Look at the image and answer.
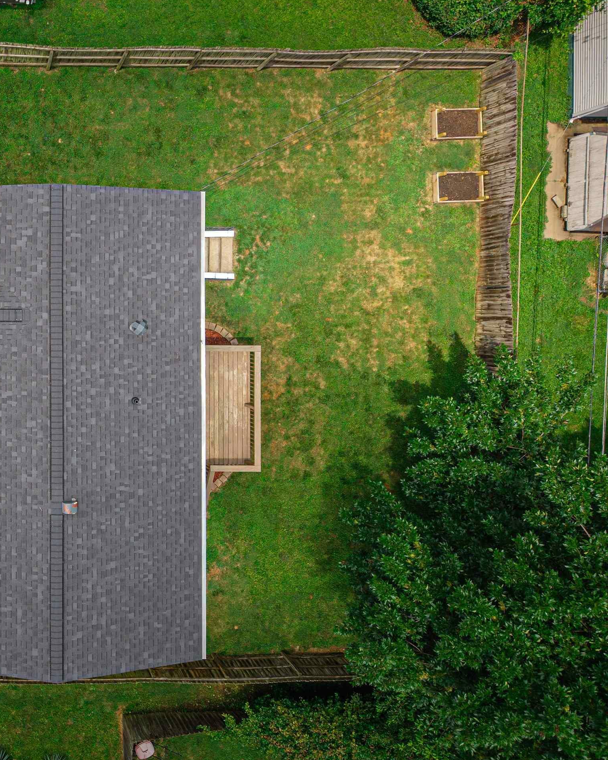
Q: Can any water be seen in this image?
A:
No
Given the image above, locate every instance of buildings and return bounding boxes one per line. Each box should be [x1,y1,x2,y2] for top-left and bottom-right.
[557,0,608,127]
[552,134,608,230]
[0,184,206,681]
